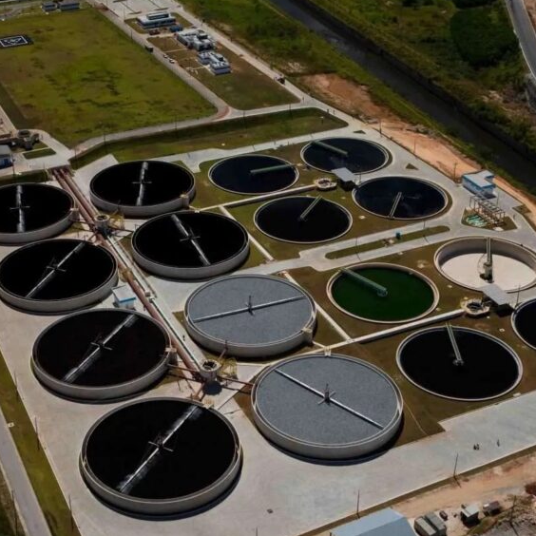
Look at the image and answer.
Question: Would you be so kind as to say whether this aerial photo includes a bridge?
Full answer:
Yes, a bridge can be made out from above.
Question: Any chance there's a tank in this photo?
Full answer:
Yes, there's a tank down there.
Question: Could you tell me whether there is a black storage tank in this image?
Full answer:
Yes, looking at the shot, I can spot a black storage tank.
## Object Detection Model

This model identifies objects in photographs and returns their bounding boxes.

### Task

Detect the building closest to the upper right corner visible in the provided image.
[463,170,495,203]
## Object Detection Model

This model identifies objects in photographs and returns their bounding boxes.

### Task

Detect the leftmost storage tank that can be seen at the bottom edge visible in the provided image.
[81,396,243,517]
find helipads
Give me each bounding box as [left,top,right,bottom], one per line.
[0,34,33,49]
